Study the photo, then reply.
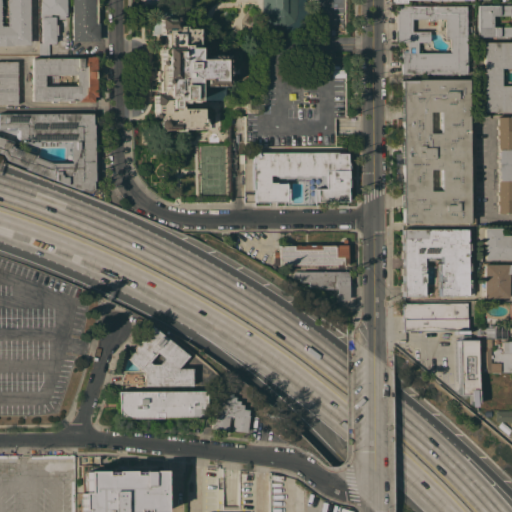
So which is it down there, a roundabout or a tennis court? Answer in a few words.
tennis court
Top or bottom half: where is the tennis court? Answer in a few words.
top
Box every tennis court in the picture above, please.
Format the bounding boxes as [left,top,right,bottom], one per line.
[199,146,230,196]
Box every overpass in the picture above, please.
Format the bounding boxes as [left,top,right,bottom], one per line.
[334,328,395,512]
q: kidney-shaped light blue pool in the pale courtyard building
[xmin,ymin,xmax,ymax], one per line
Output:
[432,34,448,52]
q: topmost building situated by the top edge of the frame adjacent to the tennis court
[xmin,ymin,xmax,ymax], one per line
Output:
[152,20,232,130]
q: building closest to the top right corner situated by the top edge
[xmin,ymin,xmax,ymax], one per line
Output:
[478,6,512,39]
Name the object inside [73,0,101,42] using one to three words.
building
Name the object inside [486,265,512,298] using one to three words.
house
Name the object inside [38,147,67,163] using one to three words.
swimming pool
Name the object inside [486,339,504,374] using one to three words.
house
